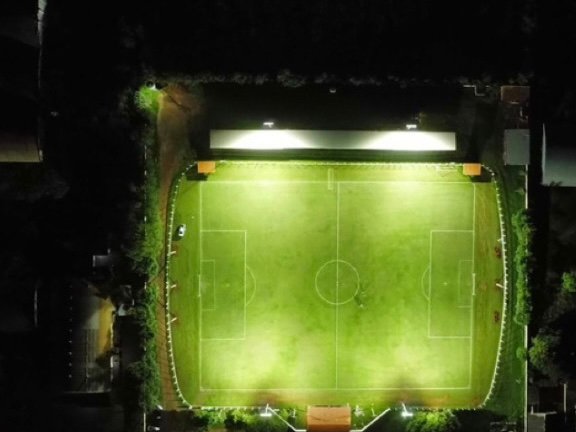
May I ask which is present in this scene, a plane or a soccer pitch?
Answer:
soccer pitch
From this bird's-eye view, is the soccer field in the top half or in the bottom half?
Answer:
bottom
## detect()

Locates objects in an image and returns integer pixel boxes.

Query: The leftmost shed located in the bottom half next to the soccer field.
[69,282,114,393]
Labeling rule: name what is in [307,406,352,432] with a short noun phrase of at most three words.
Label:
building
